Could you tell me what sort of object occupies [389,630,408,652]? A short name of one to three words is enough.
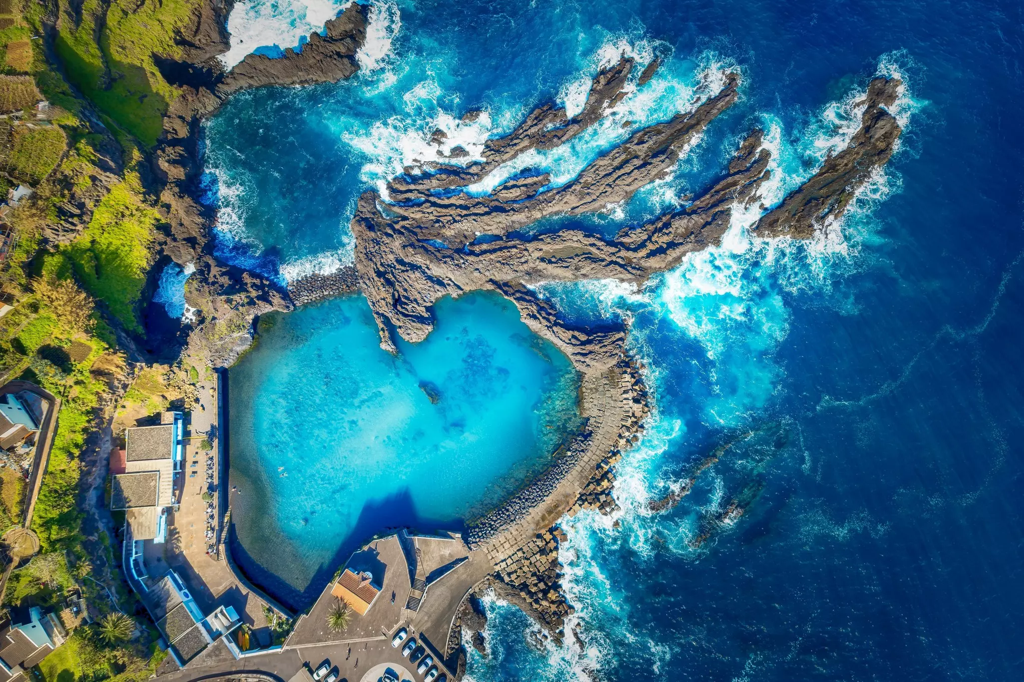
car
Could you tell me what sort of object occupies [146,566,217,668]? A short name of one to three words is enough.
building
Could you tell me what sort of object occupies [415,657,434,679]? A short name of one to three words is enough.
car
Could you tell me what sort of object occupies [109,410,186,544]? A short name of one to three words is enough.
building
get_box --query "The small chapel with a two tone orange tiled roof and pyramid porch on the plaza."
[330,566,381,617]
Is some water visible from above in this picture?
Yes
